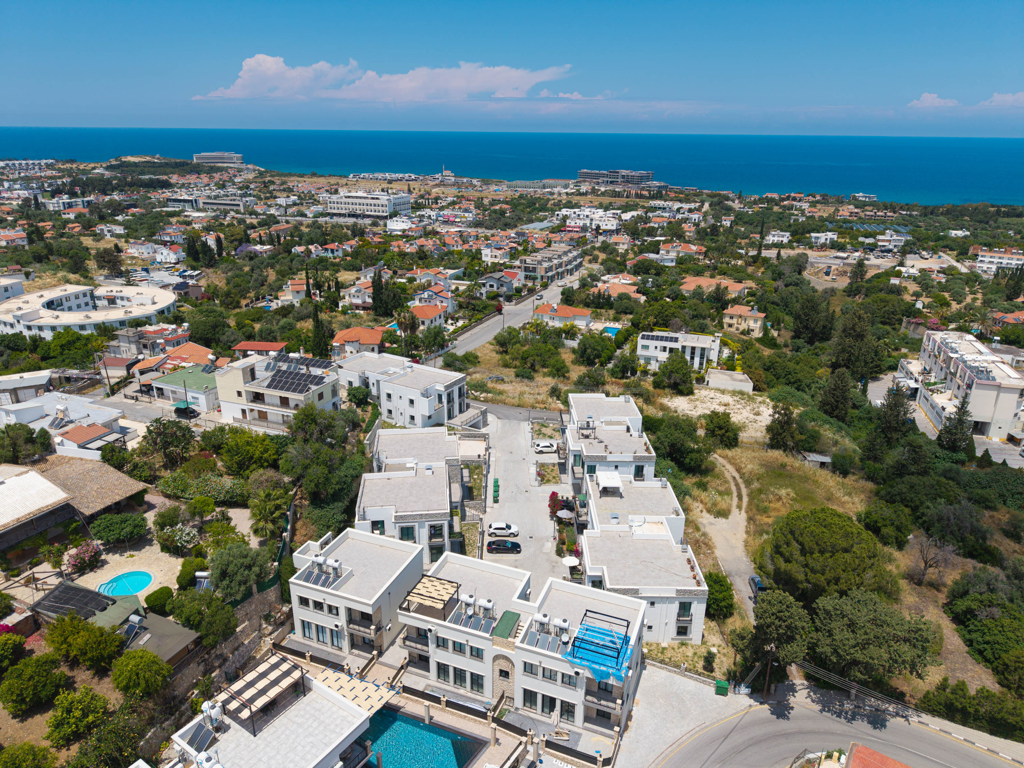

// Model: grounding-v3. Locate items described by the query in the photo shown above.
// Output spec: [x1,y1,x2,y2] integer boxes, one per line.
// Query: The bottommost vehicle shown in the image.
[745,573,772,595]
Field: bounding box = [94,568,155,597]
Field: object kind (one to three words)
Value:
swimming pool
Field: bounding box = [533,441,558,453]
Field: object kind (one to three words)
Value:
vehicle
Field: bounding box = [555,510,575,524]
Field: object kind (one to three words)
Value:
umbrella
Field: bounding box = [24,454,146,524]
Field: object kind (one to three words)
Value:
building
